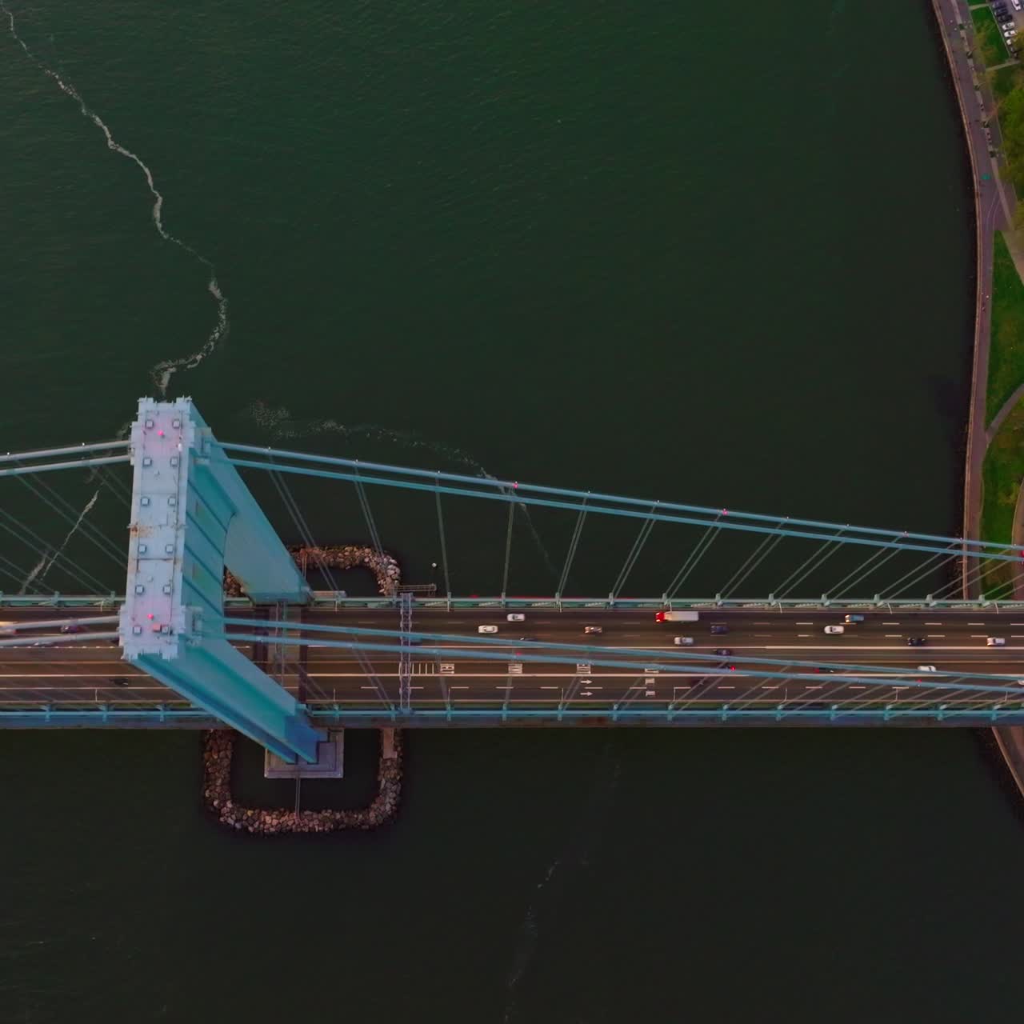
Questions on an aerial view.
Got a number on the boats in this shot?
0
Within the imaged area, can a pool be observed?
No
